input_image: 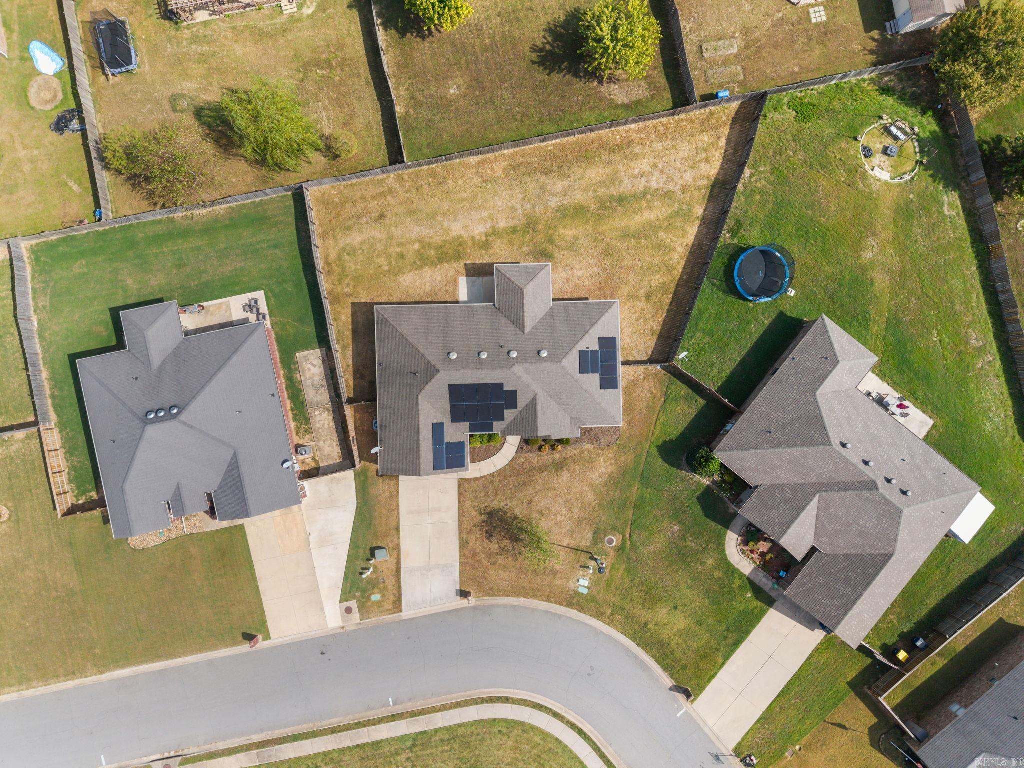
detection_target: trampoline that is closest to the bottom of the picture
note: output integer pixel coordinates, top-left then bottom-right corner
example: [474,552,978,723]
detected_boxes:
[730,242,797,305]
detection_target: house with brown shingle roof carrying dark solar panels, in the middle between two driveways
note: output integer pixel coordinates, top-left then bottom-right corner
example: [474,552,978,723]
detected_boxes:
[374,263,623,476]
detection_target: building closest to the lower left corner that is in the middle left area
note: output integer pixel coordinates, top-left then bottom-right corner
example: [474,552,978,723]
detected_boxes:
[76,300,308,539]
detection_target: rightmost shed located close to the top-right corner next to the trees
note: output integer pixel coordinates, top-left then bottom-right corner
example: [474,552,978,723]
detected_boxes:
[883,0,953,34]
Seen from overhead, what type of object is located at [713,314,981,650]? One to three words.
house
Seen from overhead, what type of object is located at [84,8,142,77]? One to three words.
trampoline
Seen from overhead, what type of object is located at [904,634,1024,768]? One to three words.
house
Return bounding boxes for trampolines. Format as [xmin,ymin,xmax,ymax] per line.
[730,242,797,305]
[84,8,142,77]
